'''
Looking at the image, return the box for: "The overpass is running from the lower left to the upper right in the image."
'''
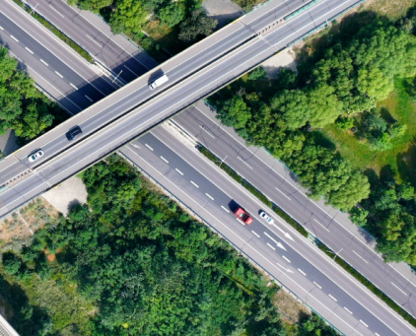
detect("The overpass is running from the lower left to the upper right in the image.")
[3,9,264,209]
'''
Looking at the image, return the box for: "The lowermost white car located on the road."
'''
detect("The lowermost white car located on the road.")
[258,210,274,224]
